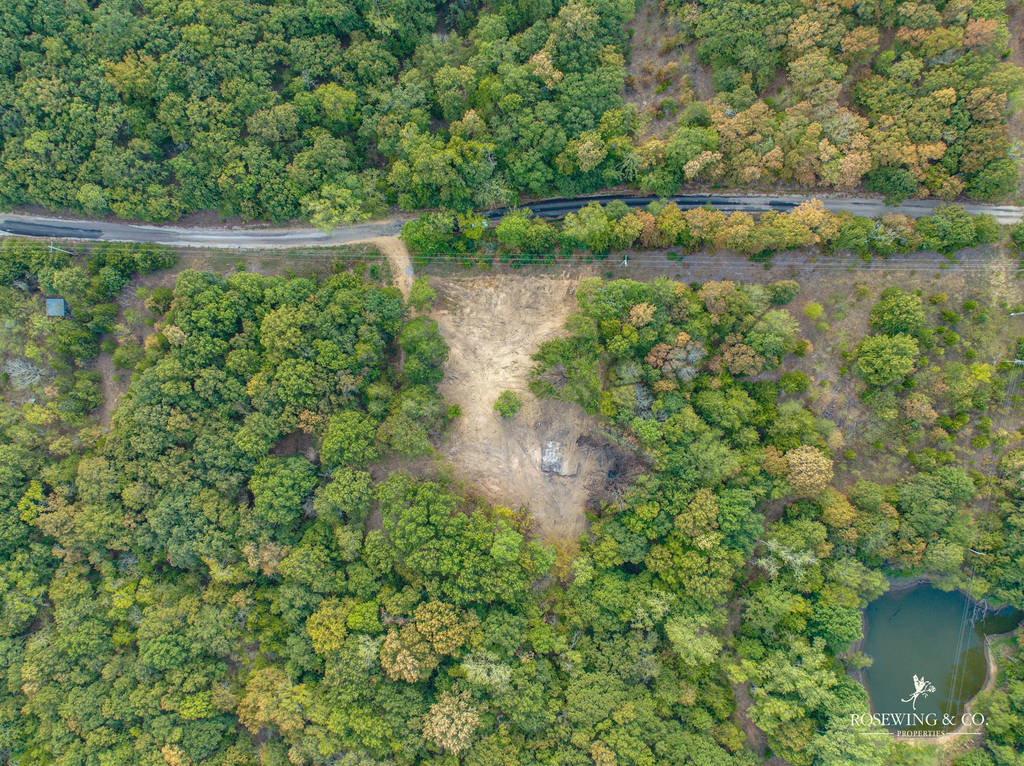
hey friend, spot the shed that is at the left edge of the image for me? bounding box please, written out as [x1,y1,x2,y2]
[47,298,72,317]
